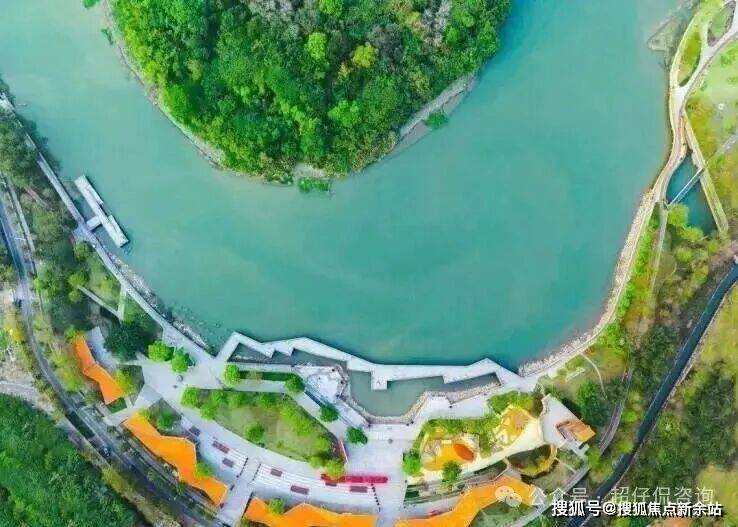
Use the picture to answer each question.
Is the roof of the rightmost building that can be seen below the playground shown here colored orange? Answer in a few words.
Yes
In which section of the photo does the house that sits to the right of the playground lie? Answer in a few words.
bottom right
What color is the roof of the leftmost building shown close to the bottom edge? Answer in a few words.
orange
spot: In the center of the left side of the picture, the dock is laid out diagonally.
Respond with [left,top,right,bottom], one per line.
[73,175,126,247]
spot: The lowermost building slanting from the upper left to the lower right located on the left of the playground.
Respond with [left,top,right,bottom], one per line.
[123,413,228,505]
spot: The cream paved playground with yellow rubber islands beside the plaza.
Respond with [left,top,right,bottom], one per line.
[416,404,544,479]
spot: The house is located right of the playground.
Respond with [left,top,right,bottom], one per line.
[556,419,595,448]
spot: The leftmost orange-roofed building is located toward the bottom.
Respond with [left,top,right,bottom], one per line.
[75,333,123,404]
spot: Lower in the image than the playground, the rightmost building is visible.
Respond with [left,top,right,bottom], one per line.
[393,476,535,527]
